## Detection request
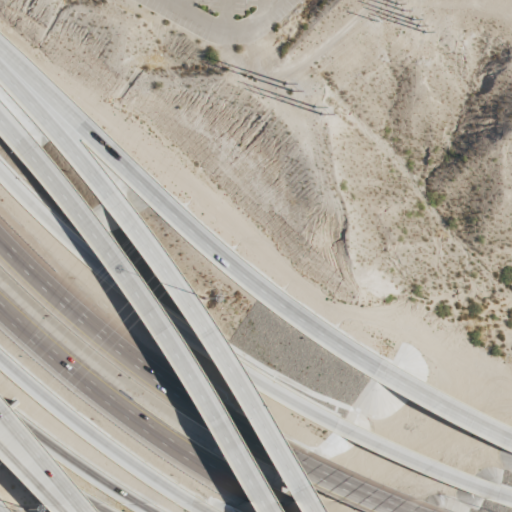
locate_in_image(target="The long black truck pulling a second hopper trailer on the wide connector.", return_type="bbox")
[90,130,124,163]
